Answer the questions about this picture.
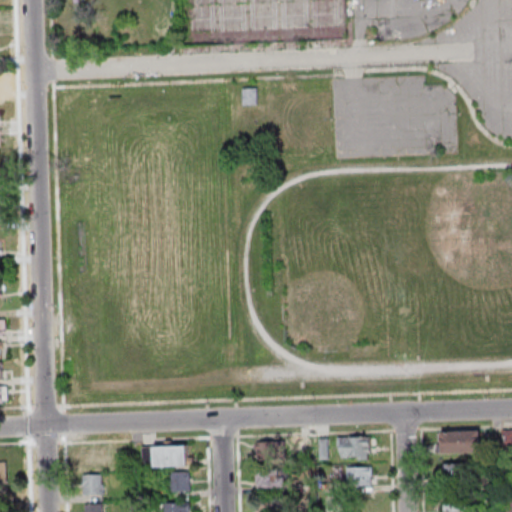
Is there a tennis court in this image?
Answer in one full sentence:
Yes, a tennis court is visible in the scene.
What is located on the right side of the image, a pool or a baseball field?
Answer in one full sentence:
There is a baseball field on the right side of the image.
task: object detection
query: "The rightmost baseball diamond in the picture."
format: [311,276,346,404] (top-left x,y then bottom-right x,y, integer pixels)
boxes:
[422,172,512,344]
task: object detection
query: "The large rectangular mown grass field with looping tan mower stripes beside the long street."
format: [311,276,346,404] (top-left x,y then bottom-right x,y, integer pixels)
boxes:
[66,90,233,374]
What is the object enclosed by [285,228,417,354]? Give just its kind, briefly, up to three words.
baseball field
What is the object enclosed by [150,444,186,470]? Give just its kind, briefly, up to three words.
building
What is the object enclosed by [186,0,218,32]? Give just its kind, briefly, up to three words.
tennis court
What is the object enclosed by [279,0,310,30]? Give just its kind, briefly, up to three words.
tennis court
